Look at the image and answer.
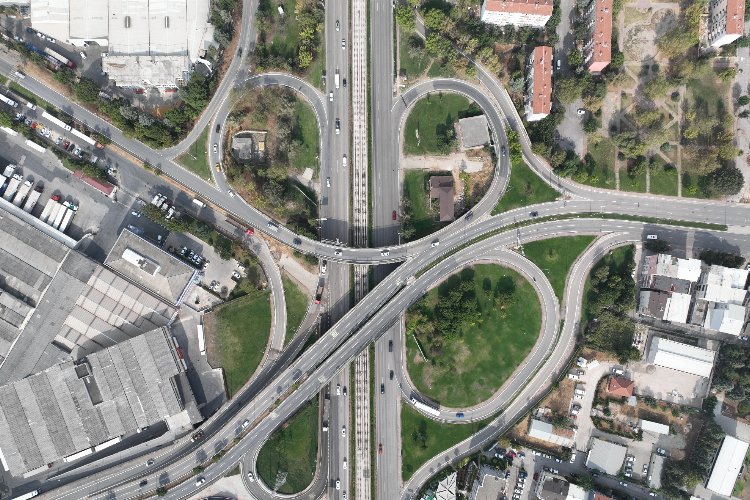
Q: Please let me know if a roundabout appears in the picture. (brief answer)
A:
No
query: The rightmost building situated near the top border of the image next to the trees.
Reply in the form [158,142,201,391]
[707,0,746,46]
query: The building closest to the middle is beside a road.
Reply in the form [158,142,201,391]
[429,176,454,222]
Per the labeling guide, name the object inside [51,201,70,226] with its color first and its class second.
white vehicle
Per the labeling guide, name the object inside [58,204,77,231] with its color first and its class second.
white vehicle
